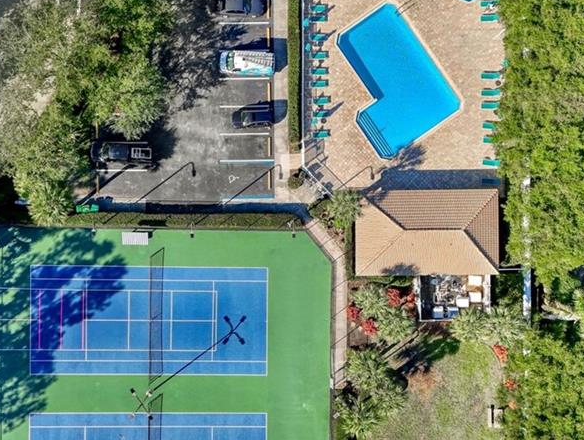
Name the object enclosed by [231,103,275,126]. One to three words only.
car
